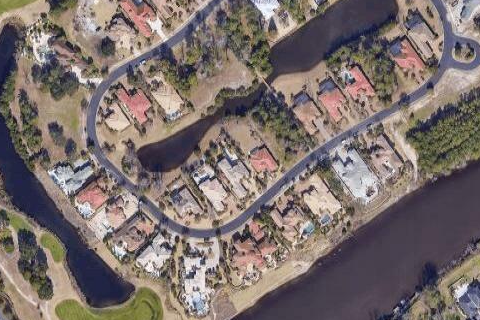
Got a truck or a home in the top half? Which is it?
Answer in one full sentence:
You can see a home in the top half.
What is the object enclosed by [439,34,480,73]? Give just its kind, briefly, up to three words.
roundabout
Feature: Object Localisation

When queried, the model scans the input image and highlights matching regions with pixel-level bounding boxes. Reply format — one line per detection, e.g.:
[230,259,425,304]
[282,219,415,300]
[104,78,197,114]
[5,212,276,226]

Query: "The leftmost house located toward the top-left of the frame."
[34,32,101,85]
